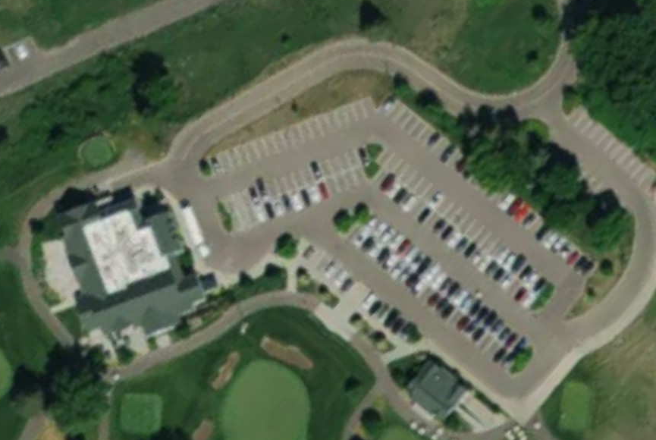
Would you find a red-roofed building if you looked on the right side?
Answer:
No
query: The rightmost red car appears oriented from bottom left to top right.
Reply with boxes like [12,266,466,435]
[566,250,580,266]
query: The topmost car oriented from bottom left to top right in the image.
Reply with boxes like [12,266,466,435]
[383,98,397,115]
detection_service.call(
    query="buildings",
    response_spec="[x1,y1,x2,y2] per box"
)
[408,357,470,420]
[60,198,217,337]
